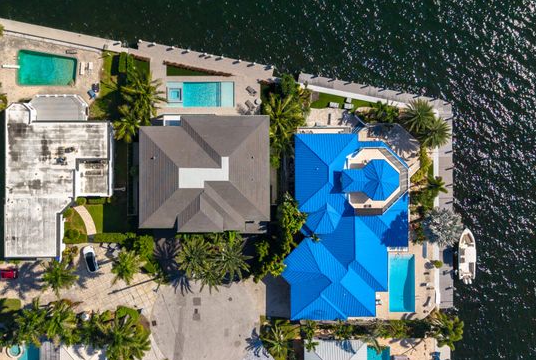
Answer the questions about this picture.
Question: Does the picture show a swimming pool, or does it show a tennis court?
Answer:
swimming pool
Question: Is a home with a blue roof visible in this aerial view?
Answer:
Yes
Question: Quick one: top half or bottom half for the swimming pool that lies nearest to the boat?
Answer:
bottom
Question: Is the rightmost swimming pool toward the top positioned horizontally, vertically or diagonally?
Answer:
horizontally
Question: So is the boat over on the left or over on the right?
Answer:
right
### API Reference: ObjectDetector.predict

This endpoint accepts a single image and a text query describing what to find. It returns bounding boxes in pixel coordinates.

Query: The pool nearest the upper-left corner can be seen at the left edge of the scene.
[17,49,79,87]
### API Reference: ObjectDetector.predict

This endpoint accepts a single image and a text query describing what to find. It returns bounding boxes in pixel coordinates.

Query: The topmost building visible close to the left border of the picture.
[5,95,115,258]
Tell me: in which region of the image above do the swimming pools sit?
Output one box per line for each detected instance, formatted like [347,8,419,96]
[387,252,416,314]
[21,339,40,360]
[369,345,392,360]
[166,81,235,108]
[17,49,79,87]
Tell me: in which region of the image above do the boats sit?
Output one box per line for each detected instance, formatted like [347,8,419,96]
[455,227,477,285]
